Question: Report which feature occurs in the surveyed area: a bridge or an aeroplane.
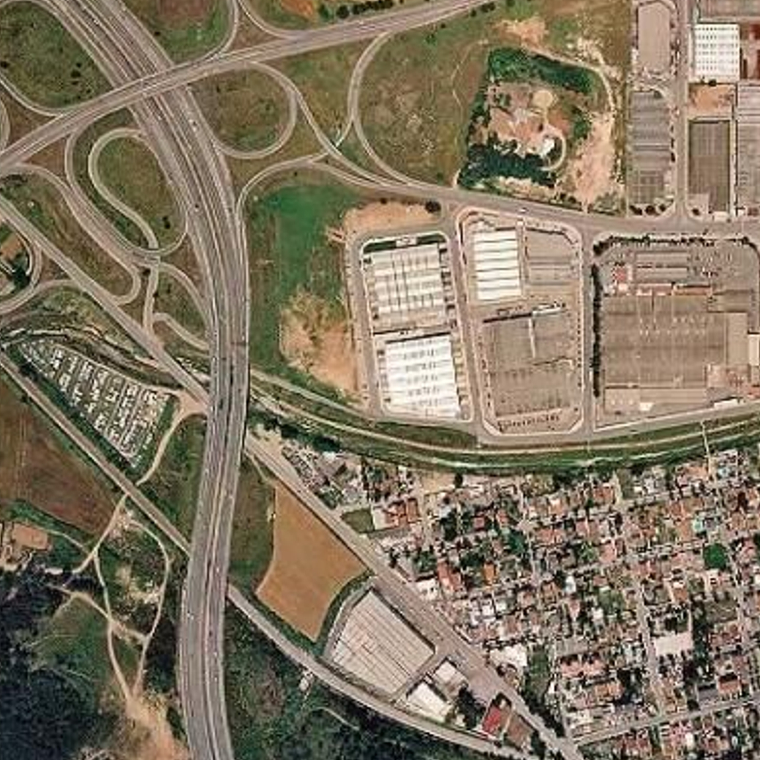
bridge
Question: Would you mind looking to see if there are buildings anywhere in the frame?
Yes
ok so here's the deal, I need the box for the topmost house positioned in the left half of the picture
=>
[0,235,23,261]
